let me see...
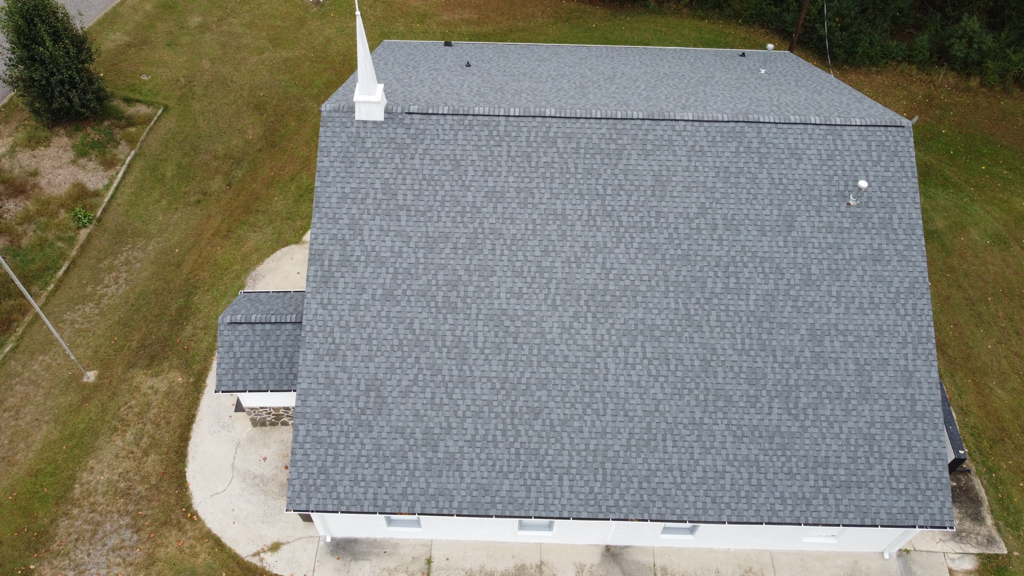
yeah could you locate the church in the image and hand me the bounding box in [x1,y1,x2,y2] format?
[214,0,957,558]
